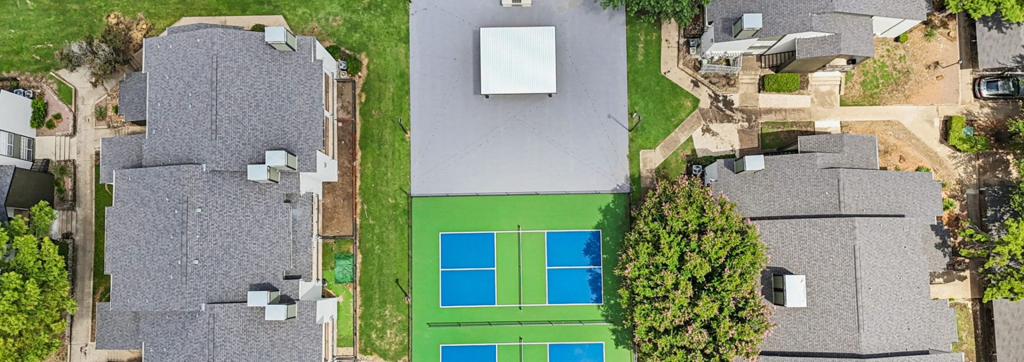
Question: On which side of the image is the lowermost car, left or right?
right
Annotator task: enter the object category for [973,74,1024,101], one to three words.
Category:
car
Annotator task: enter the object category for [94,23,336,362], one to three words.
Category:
building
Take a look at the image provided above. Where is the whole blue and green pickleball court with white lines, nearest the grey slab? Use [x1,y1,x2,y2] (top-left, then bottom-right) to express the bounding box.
[439,229,604,308]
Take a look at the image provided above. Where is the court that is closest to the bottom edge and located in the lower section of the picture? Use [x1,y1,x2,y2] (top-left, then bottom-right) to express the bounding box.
[440,342,606,362]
